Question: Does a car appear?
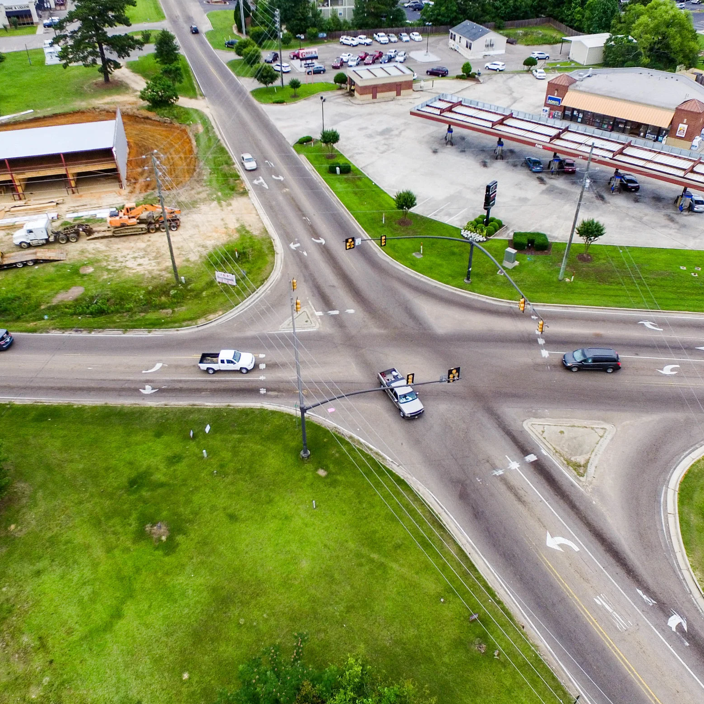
Yes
